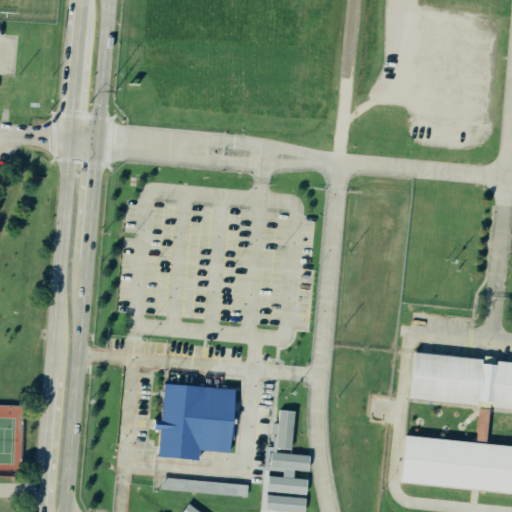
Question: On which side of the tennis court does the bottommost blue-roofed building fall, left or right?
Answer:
right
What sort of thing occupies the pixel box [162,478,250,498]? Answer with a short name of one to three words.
shed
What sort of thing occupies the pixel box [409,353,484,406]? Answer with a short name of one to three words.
building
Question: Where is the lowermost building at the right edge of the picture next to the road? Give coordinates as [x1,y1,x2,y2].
[402,436,512,493]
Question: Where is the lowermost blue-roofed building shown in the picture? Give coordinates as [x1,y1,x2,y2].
[154,372,242,460]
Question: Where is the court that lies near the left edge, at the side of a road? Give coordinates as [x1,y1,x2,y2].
[0,406,24,478]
